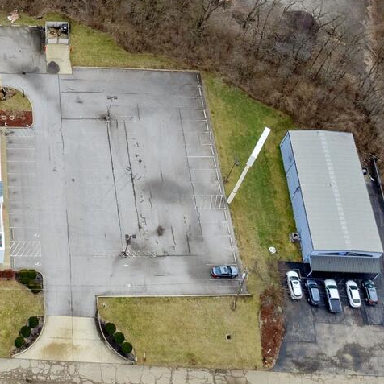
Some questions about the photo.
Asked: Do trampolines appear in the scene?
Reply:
No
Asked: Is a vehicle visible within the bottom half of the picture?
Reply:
Yes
